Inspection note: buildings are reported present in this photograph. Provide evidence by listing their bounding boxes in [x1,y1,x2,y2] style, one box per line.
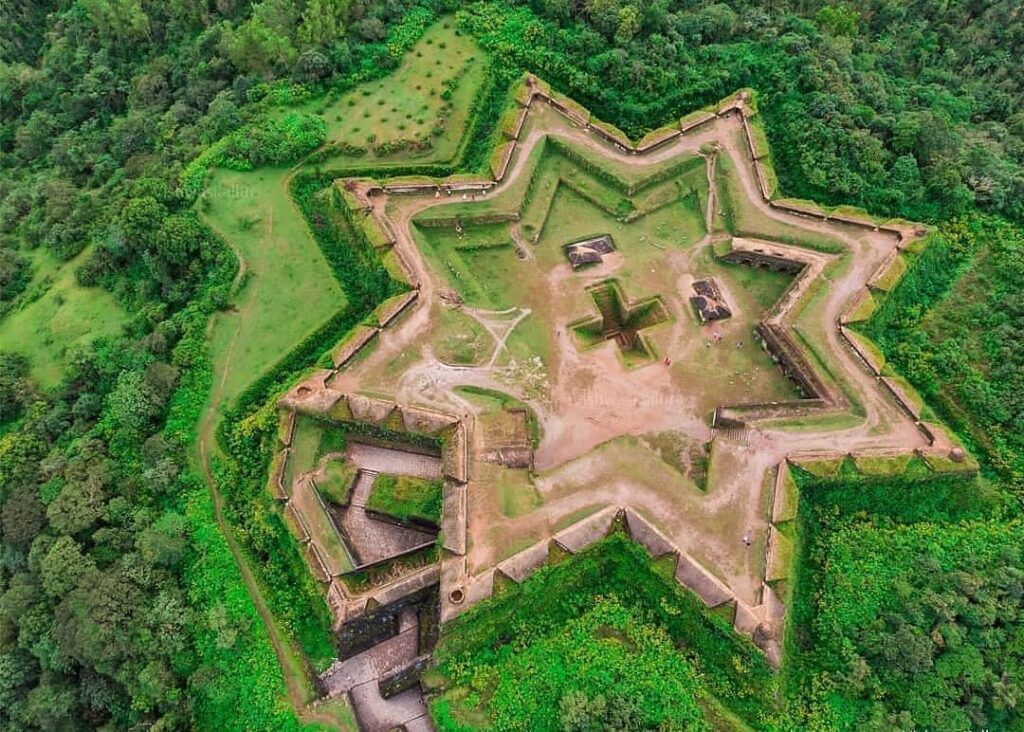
[565,234,616,271]
[711,236,850,429]
[688,277,734,324]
